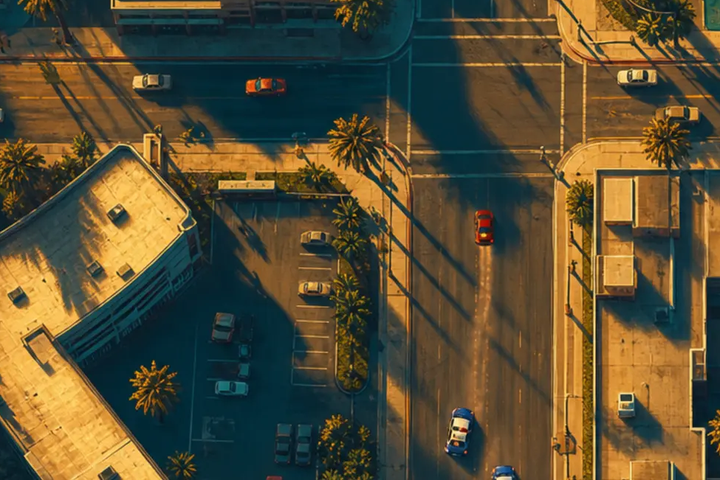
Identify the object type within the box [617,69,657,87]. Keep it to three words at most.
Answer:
car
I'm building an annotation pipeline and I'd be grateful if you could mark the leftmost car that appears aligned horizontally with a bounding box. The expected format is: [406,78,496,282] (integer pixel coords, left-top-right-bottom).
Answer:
[132,74,173,91]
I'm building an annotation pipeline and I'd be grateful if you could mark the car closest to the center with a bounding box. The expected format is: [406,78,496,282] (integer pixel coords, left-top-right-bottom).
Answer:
[298,230,332,247]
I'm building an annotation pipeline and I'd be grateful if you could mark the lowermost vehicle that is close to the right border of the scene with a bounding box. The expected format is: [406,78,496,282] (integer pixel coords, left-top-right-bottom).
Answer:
[655,105,701,123]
